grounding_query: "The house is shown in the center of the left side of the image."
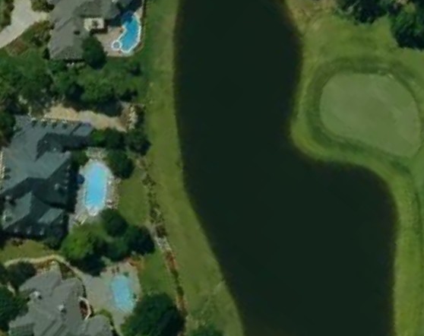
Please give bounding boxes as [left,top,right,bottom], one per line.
[0,114,91,237]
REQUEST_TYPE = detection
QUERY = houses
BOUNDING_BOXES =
[45,0,141,59]
[6,258,114,336]
[0,114,91,237]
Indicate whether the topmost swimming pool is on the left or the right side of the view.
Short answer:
left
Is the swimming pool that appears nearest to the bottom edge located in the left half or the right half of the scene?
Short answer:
left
